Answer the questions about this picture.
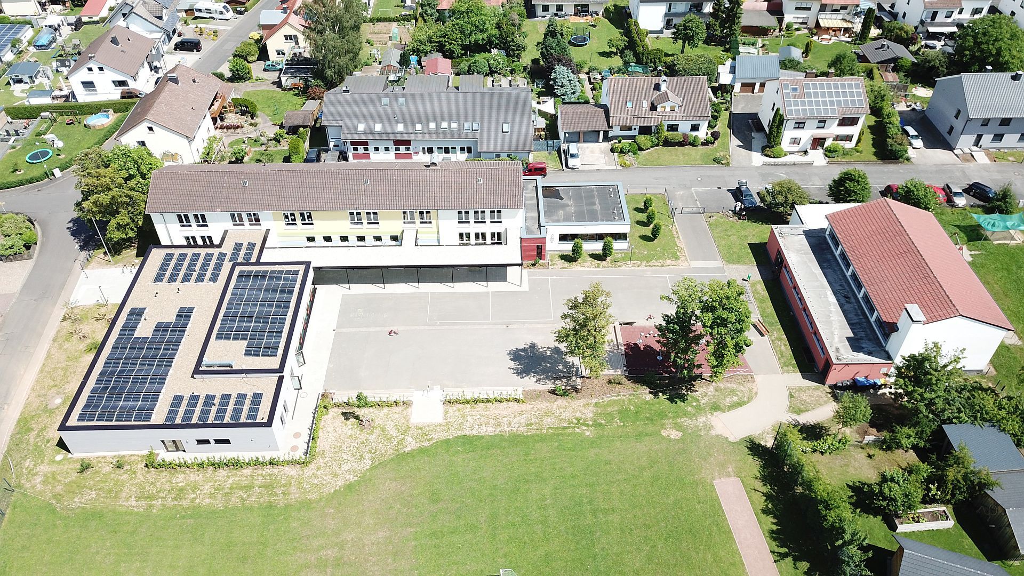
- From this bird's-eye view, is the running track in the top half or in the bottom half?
bottom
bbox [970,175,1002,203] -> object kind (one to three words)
vehicle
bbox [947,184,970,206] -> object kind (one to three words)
car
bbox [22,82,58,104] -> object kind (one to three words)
shed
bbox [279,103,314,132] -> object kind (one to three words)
shed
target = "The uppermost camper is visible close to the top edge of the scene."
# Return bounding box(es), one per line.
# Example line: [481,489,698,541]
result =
[197,3,232,21]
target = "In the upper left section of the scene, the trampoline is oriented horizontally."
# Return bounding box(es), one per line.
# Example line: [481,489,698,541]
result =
[24,149,52,164]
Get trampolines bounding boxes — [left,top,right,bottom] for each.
[571,27,591,47]
[24,149,52,164]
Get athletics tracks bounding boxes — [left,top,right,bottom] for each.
[714,478,780,576]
